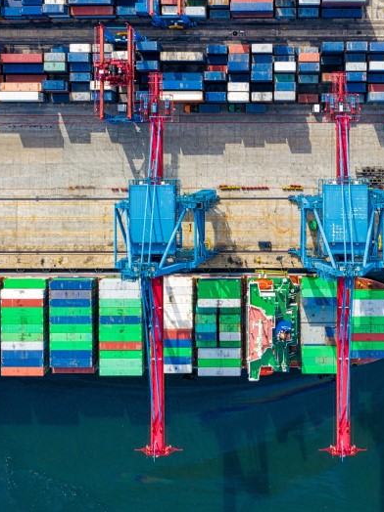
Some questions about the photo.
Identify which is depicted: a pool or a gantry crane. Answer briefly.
gantry crane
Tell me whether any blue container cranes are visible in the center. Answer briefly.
Yes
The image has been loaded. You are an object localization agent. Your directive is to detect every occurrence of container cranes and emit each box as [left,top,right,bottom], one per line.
[289,72,384,462]
[109,72,220,464]
[146,0,199,29]
[96,22,153,122]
